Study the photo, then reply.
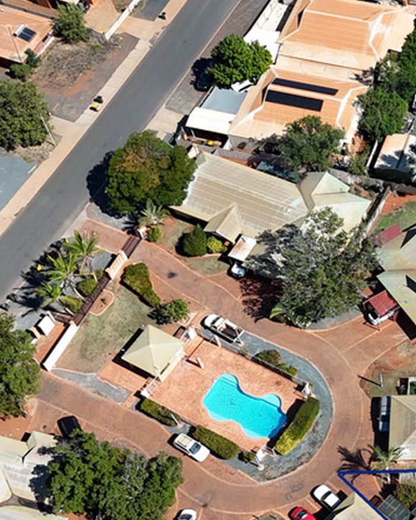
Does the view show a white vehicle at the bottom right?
Yes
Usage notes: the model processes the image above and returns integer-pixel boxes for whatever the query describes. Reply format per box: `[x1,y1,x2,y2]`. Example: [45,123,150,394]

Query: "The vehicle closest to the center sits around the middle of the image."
[226,256,249,284]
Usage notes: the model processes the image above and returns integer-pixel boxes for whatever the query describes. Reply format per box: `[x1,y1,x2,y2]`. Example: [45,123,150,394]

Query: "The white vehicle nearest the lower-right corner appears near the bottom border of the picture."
[308,482,344,515]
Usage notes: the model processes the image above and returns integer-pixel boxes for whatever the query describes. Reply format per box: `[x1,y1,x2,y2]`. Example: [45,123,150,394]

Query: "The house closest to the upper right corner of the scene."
[277,0,416,79]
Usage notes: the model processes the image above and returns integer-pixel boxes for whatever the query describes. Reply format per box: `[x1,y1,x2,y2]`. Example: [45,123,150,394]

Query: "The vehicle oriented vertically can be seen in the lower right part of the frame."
[374,394,391,436]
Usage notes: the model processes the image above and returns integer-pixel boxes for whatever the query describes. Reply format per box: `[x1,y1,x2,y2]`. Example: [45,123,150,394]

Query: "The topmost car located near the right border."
[359,305,397,327]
